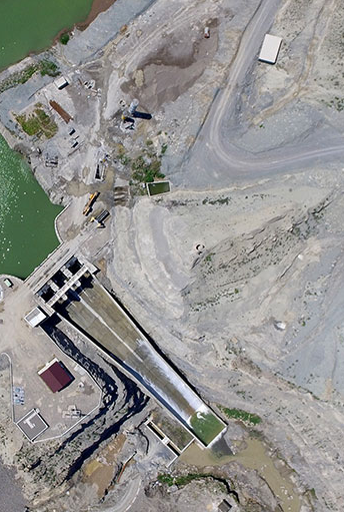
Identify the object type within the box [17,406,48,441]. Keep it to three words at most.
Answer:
building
